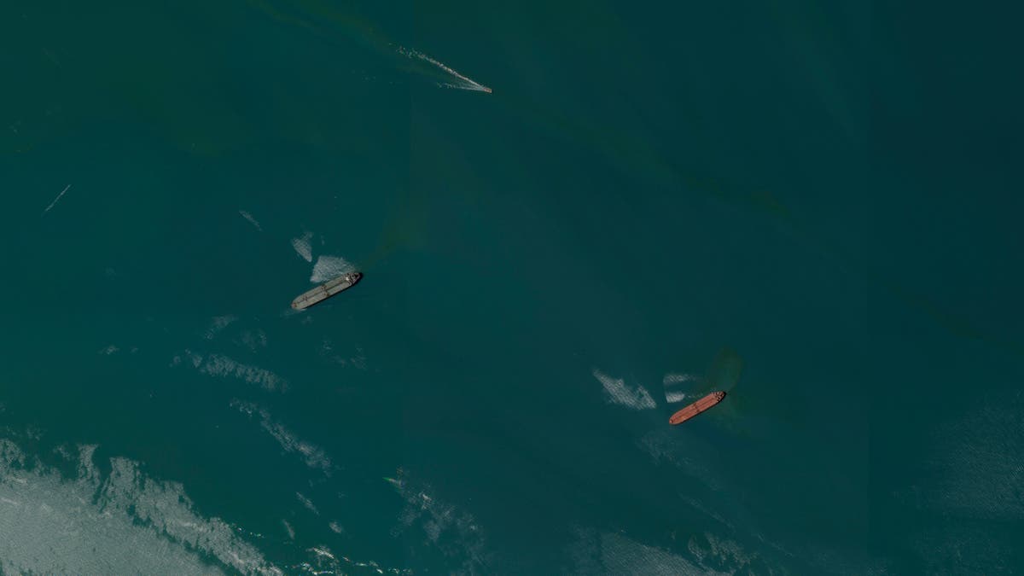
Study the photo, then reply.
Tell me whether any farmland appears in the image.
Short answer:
No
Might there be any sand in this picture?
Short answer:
No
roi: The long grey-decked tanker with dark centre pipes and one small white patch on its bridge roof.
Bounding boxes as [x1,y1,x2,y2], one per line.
[291,273,361,308]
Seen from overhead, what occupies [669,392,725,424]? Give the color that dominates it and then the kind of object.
red ship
